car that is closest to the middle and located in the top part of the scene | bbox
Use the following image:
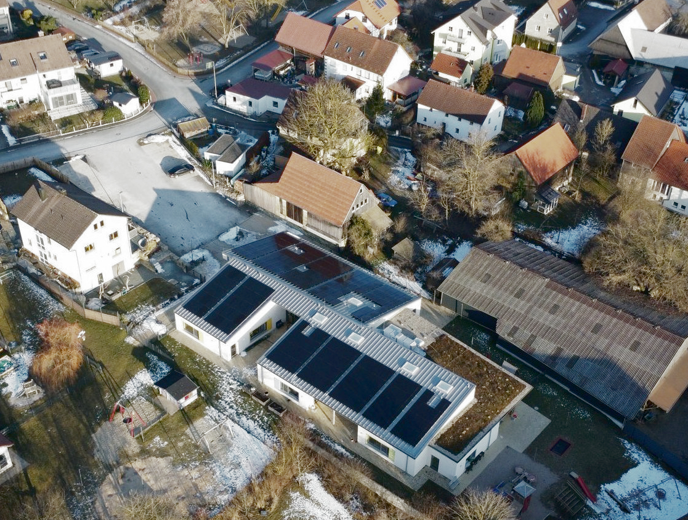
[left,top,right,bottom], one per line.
[374,189,400,205]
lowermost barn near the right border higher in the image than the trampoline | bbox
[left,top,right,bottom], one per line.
[434,240,688,436]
